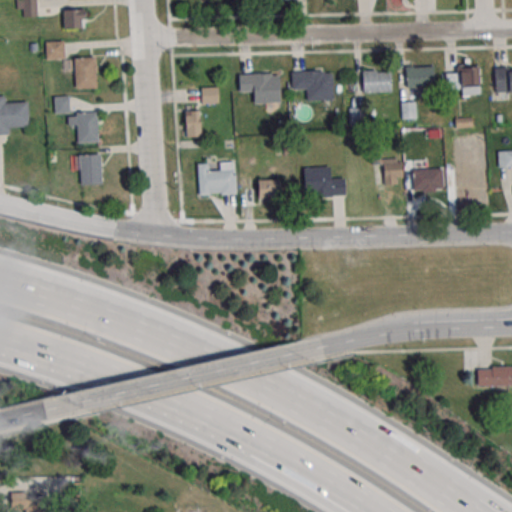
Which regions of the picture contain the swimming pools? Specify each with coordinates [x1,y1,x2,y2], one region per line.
[292,104,313,122]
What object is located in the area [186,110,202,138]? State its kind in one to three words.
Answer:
house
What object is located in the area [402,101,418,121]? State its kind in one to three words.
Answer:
building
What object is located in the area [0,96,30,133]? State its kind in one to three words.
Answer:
house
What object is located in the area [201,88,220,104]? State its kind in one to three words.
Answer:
building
